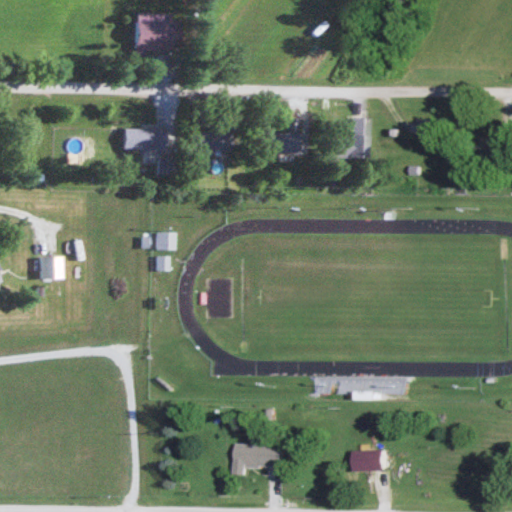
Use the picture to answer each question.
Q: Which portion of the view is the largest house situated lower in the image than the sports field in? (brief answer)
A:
bottom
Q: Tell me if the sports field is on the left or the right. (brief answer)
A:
right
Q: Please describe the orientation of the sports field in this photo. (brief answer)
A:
horizontally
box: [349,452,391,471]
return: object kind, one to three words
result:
house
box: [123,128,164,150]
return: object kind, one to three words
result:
house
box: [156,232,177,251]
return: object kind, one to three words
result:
shed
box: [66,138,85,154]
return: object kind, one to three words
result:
swimming pool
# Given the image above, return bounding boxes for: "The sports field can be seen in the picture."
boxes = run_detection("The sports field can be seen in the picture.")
[263,249,489,347]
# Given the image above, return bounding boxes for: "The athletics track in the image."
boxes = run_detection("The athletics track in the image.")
[180,220,512,376]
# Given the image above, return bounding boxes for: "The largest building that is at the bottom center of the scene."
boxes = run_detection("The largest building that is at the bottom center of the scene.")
[232,444,284,476]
